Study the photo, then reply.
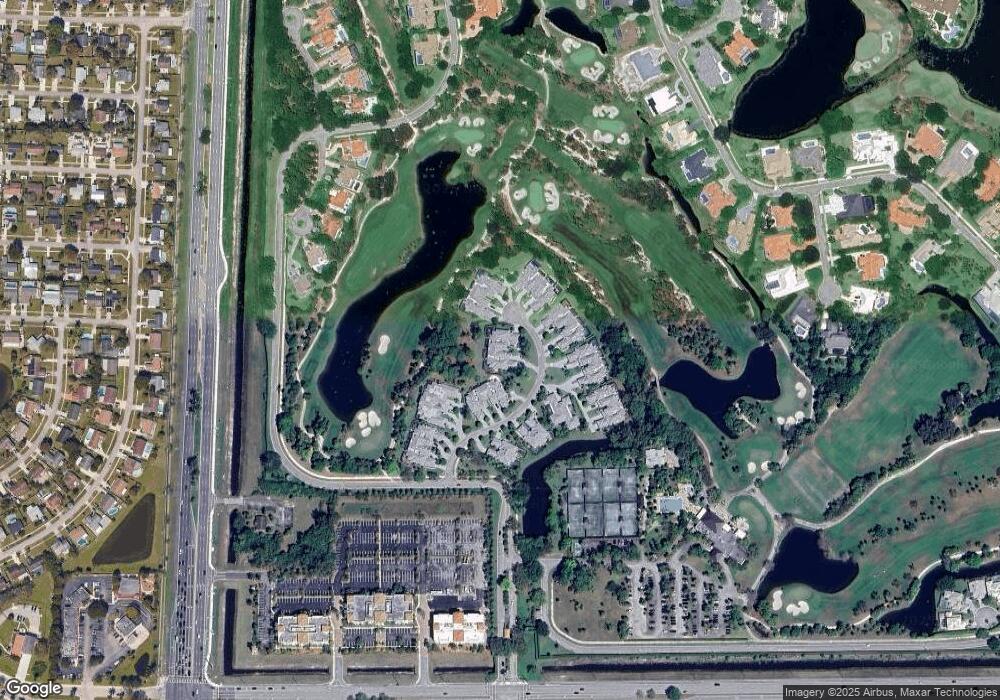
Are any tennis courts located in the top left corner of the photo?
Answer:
No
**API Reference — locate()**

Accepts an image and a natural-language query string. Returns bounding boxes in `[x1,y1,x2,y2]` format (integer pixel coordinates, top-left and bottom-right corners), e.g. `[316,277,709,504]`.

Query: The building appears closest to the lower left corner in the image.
[11,633,36,655]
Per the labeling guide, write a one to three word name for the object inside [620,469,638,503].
tennis court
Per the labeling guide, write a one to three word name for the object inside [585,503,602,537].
tennis court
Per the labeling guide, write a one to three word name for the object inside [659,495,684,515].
swimming pool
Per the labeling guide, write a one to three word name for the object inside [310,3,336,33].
house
